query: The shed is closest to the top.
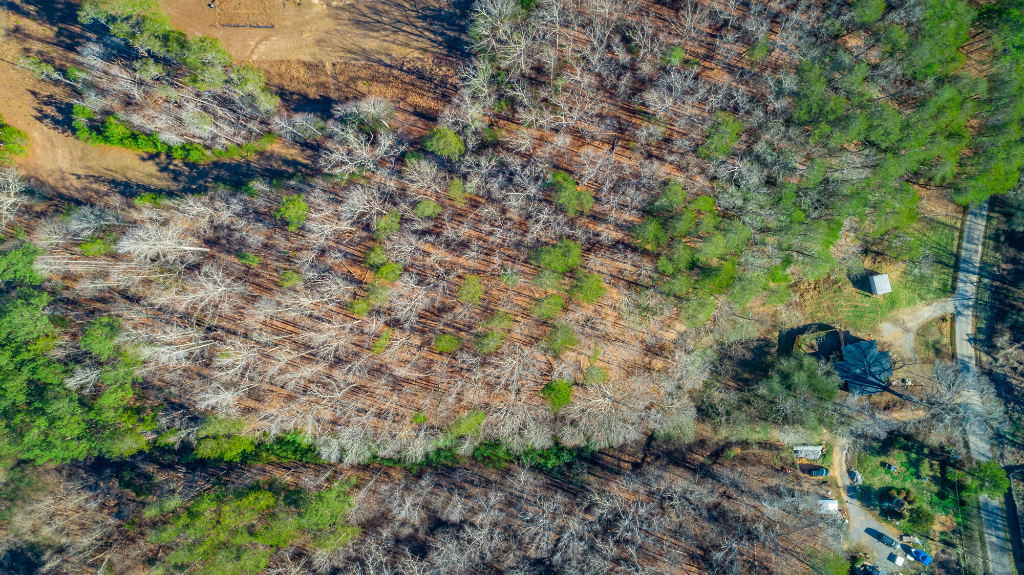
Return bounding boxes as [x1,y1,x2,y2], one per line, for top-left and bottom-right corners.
[868,274,891,295]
